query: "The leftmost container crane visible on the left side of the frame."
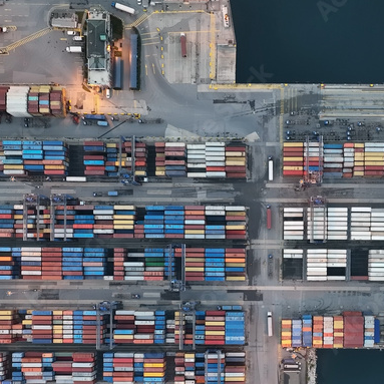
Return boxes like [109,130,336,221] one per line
[24,195,52,242]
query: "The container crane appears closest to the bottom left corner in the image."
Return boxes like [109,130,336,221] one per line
[98,300,133,349]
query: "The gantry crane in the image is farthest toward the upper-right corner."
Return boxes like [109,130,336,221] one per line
[302,137,332,189]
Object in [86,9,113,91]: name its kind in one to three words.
building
